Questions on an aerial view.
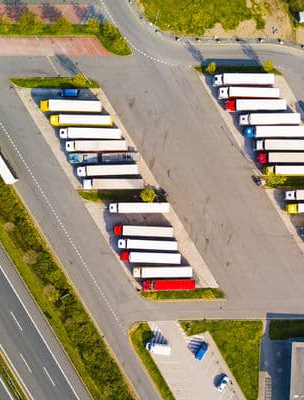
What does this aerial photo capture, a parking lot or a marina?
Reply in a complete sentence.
It's a parking lot.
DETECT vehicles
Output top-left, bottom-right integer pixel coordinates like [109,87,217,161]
[144,278,196,290]
[214,74,275,88]
[134,265,194,277]
[60,128,124,141]
[218,87,280,101]
[226,100,286,112]
[196,339,210,359]
[284,190,304,201]
[121,251,182,263]
[0,145,22,187]
[264,165,304,177]
[119,238,179,250]
[52,114,116,127]
[284,203,304,214]
[63,89,81,98]
[148,341,173,355]
[71,152,141,164]
[239,114,300,127]
[257,153,304,164]
[67,141,130,152]
[217,373,231,391]
[255,140,304,152]
[42,100,105,114]
[78,165,142,177]
[244,127,304,139]
[115,224,175,237]
[110,201,171,213]
[84,179,146,190]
